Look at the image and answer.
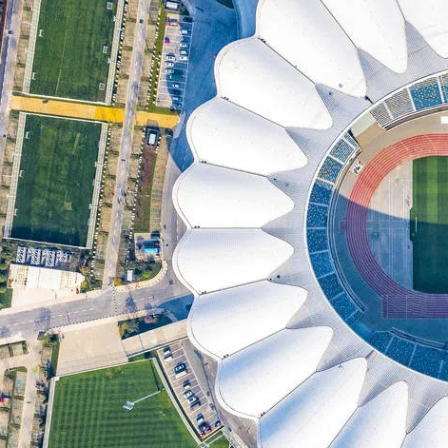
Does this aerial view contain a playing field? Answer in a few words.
Yes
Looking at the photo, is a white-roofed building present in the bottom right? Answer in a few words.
No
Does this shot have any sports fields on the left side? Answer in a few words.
Yes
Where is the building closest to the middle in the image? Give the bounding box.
[139,236,162,255]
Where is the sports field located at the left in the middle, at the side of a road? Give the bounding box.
[0,110,107,249]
